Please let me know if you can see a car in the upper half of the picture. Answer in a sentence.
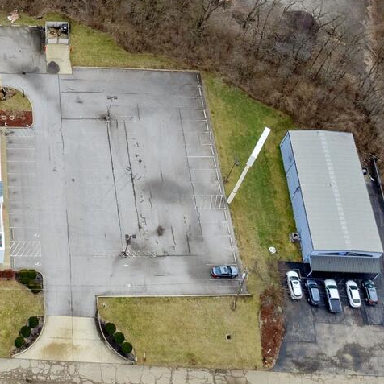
No, in the upper half of the picture there is no car.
